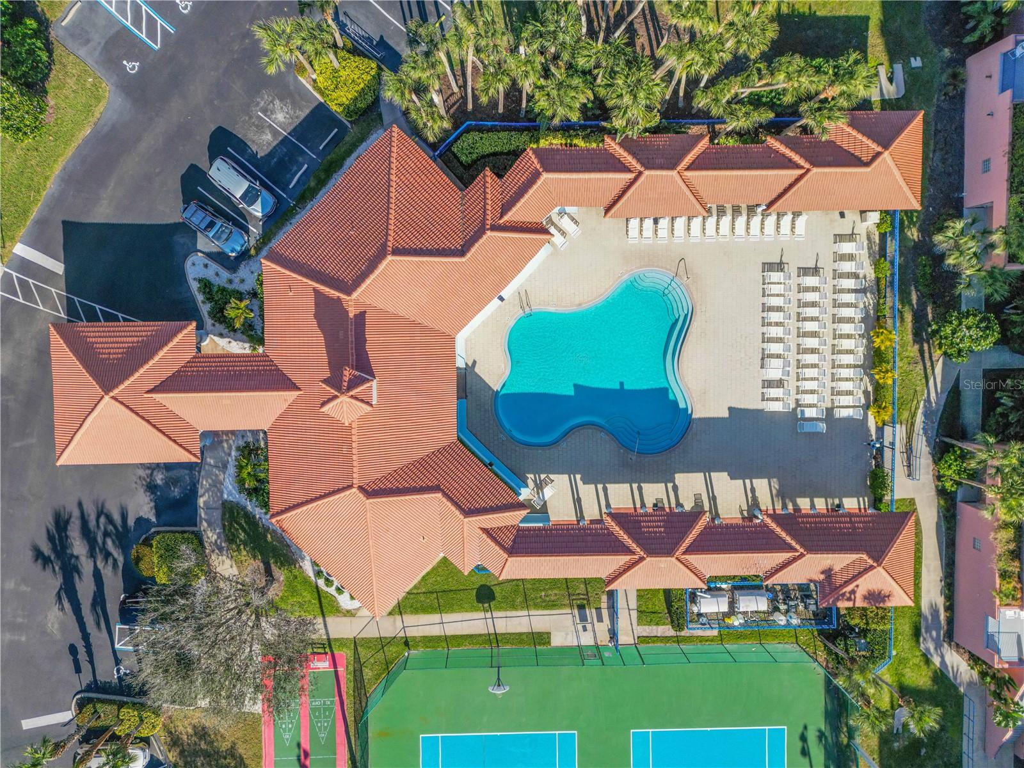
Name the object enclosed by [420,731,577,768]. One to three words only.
tennis court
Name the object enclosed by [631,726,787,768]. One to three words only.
tennis court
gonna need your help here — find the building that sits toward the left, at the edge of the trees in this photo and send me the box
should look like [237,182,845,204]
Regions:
[261,125,554,621]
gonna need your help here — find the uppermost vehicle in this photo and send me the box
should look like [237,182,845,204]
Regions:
[209,157,283,220]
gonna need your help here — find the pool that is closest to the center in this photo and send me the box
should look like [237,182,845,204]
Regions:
[489,264,699,459]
